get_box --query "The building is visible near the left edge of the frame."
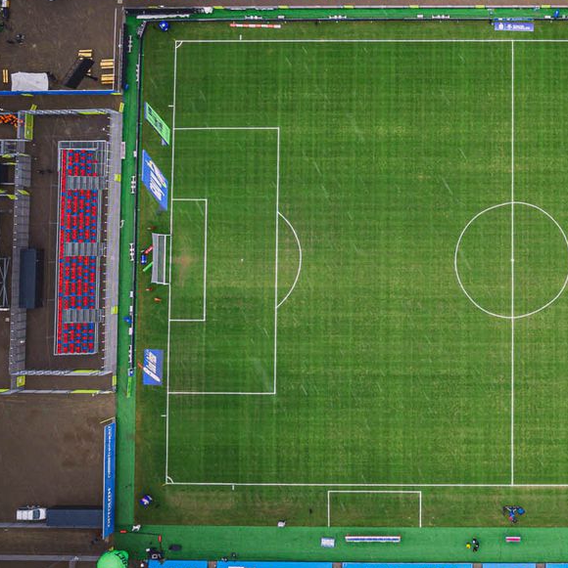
[0,165,15,188]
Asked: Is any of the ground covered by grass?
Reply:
Yes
